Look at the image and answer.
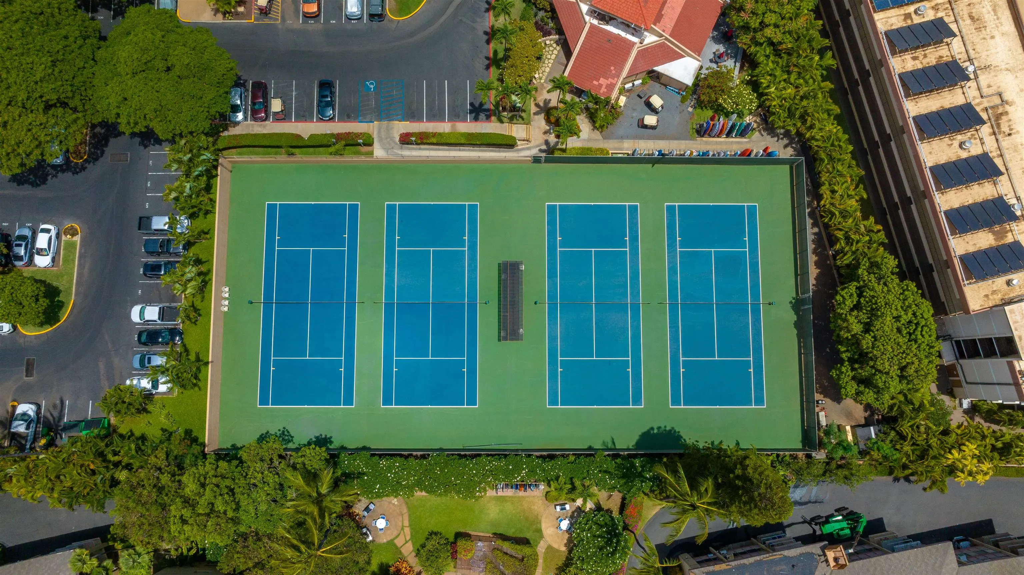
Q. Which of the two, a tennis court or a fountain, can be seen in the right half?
tennis court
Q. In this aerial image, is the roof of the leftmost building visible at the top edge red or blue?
red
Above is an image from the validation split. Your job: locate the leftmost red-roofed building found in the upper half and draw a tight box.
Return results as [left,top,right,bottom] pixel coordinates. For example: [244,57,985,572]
[552,0,723,102]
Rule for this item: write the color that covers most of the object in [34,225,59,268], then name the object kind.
white car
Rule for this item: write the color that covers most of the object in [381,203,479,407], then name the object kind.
blue tennis court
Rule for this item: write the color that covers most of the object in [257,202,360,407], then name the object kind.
blue tennis court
